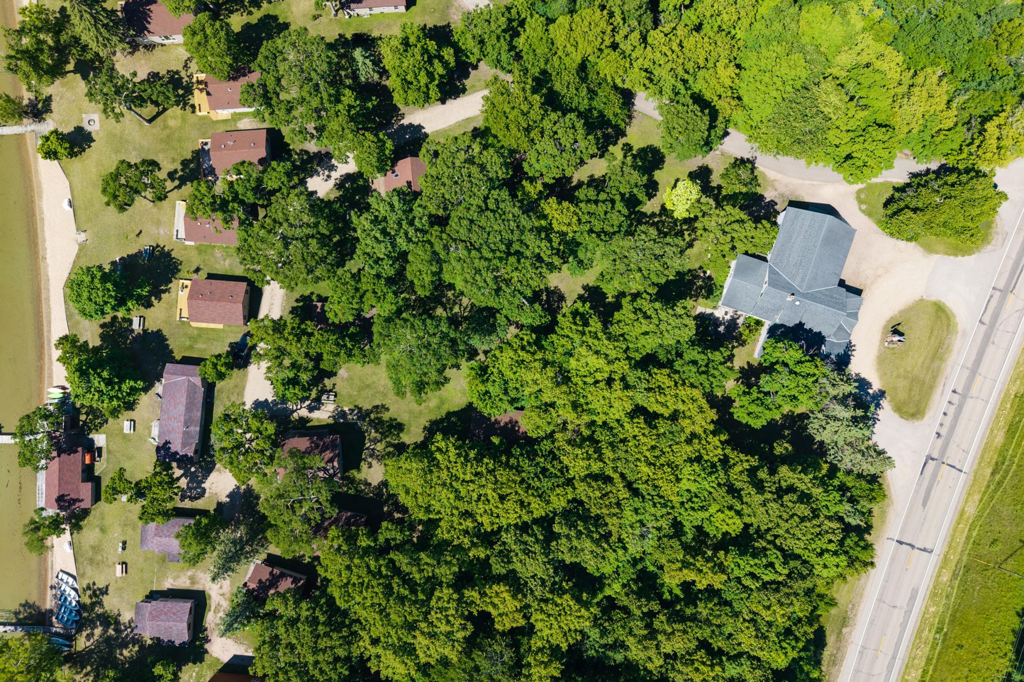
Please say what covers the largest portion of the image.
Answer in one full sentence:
For the most part, this view shows trees.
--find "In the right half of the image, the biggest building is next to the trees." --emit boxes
[719,203,863,369]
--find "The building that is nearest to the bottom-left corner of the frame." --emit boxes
[134,597,196,647]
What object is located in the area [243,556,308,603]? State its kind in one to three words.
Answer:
building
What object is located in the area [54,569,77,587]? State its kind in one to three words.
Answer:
boat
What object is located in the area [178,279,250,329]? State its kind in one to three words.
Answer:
building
